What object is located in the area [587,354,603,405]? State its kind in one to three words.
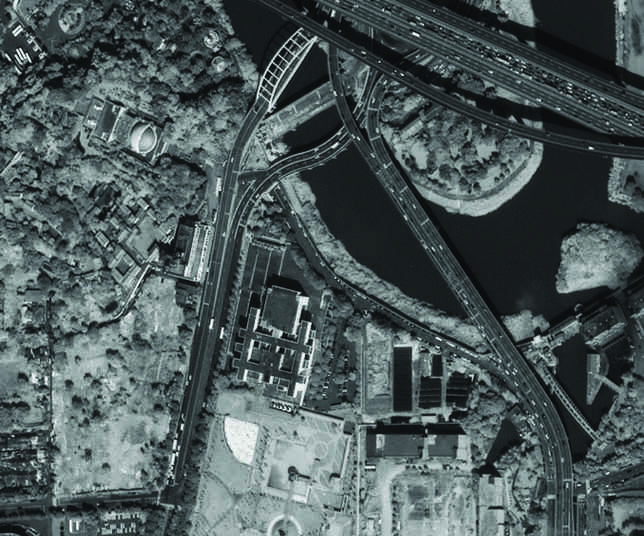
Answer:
pier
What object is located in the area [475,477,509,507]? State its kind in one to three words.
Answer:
building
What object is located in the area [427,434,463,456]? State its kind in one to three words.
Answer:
building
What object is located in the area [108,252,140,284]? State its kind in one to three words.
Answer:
house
